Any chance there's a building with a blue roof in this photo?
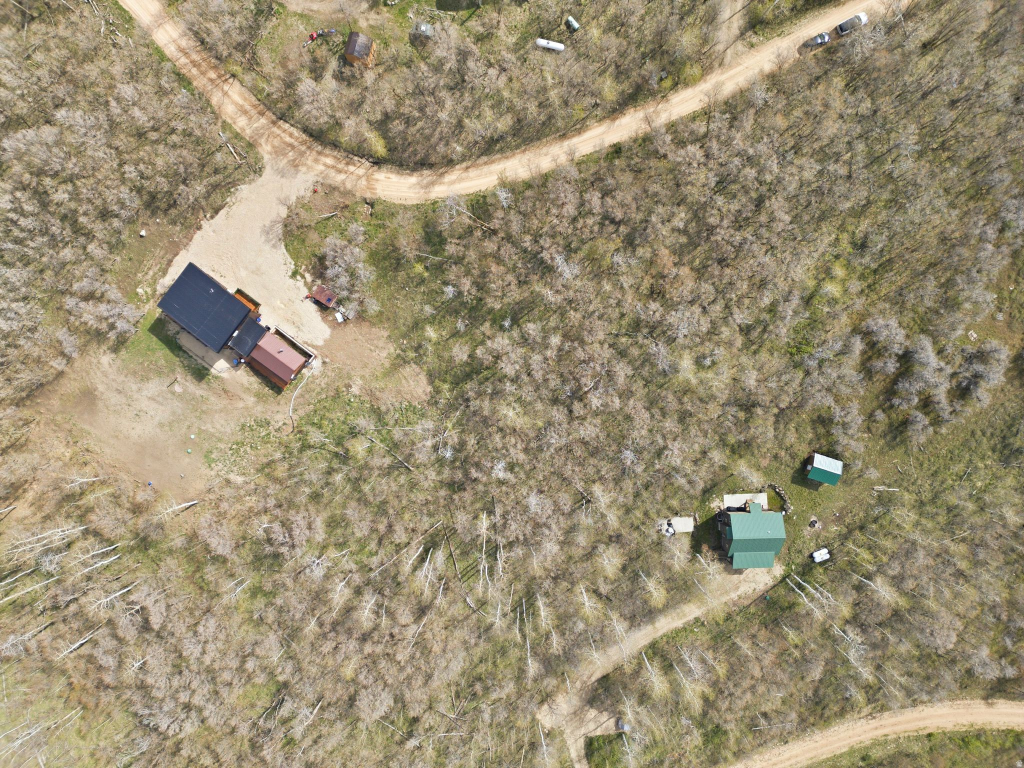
Yes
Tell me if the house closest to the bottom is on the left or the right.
right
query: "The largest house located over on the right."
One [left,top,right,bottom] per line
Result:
[714,501,786,568]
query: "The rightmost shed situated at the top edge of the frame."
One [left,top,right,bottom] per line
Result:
[411,22,436,43]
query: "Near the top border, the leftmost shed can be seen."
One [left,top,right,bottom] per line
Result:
[344,32,375,66]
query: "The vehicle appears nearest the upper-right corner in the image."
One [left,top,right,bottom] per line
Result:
[833,13,870,37]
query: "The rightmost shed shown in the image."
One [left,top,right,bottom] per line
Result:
[802,451,843,487]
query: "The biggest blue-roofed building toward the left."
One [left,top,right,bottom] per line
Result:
[158,263,254,353]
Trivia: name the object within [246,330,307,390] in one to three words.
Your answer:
building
